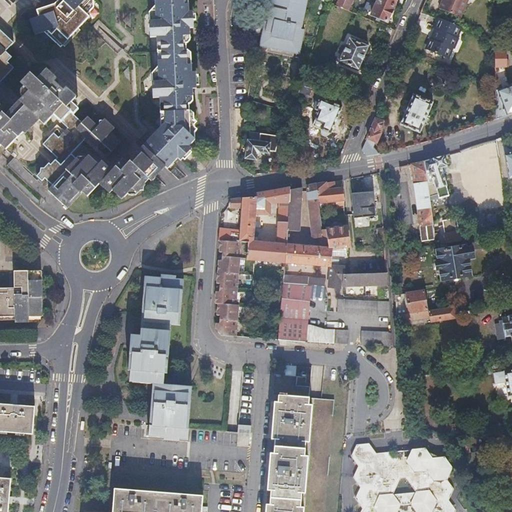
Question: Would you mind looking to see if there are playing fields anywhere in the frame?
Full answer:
Yes, there is a playing field in the image.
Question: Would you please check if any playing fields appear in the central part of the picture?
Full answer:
No, no playing field is visible in the central part of the picture.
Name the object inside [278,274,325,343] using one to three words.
building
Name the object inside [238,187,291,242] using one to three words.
house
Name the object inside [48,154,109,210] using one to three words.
building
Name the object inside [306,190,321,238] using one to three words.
barn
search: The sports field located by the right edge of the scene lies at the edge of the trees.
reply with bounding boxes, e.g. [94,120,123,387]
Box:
[449,140,508,212]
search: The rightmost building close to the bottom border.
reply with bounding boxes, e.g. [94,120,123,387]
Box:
[350,443,456,512]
